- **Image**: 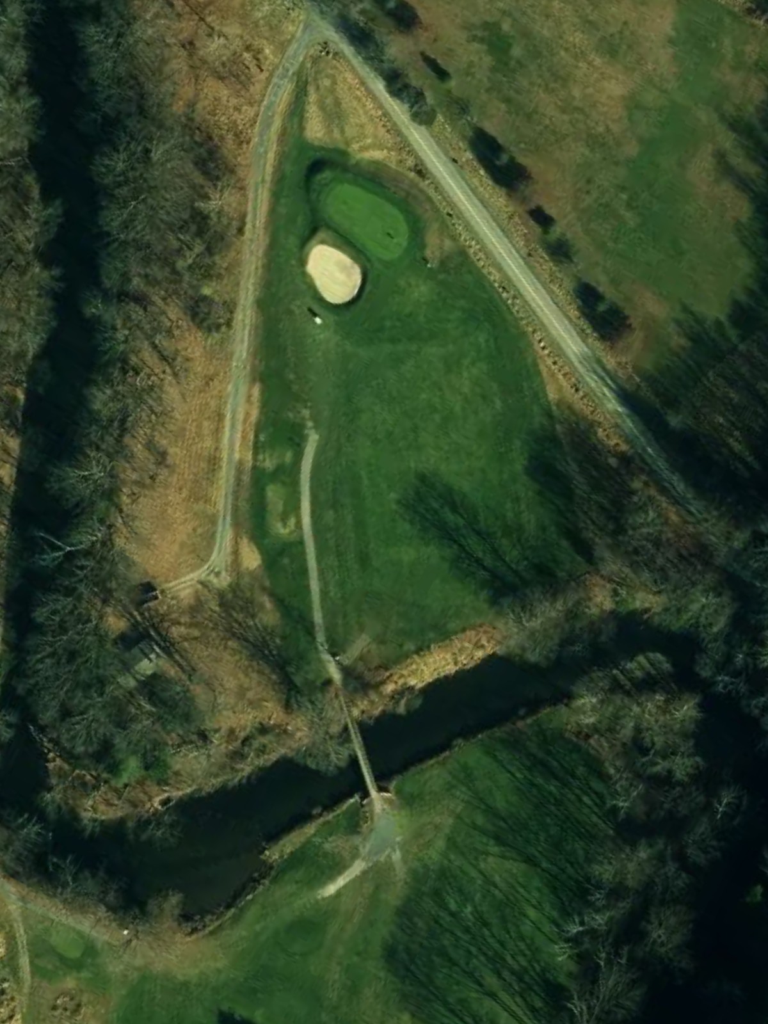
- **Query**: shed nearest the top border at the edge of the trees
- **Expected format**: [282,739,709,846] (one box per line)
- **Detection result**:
[133,581,160,607]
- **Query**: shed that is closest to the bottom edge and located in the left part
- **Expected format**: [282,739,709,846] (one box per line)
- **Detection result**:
[110,646,160,692]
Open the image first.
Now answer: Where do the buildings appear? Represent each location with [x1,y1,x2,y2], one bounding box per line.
[110,646,160,692]
[133,581,160,607]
